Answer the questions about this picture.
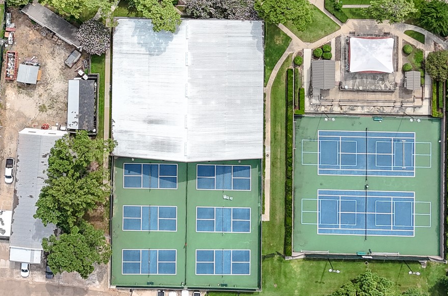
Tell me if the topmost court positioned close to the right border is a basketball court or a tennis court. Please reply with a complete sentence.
Looking closely, the topmost court positioned close to the right border is a tennis court.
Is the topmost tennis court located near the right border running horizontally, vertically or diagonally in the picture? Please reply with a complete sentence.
I'd say the topmost tennis court located near the right border is aligned horizontally in the picture.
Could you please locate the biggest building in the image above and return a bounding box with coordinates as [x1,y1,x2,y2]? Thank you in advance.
[111,17,264,161]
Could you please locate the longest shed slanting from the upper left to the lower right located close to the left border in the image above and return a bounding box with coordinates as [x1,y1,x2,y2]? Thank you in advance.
[21,3,87,46]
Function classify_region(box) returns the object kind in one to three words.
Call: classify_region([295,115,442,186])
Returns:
tennis court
